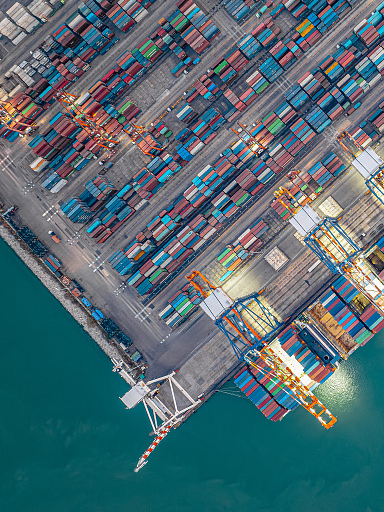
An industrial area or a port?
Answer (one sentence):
The area seen from above is a port.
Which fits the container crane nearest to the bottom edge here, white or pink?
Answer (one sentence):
The container crane nearest to the bottom edge is white.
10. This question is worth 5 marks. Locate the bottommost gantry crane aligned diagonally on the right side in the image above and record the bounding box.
[184,270,340,435]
